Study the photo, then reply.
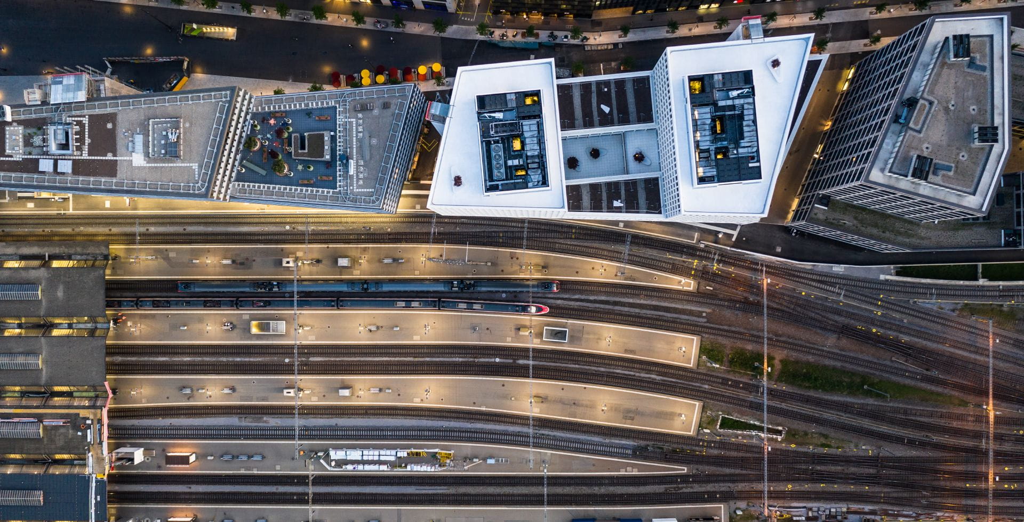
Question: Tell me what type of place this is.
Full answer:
The area seen from above is a rail yard.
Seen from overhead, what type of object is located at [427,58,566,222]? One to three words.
building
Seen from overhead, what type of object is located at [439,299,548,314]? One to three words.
rail car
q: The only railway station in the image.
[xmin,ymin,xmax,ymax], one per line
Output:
[0,242,110,522]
